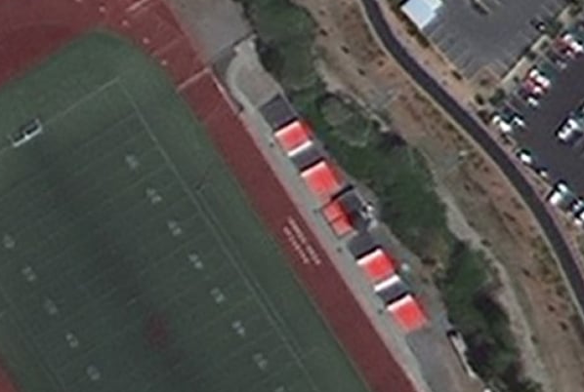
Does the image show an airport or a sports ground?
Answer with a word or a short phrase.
sports ground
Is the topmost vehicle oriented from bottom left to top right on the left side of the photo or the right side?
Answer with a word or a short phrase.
right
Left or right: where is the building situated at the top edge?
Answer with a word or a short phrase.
right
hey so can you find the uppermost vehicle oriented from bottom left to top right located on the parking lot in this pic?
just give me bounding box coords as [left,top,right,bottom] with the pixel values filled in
[557,118,578,140]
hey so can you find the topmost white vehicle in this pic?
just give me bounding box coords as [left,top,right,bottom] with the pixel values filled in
[565,34,584,51]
